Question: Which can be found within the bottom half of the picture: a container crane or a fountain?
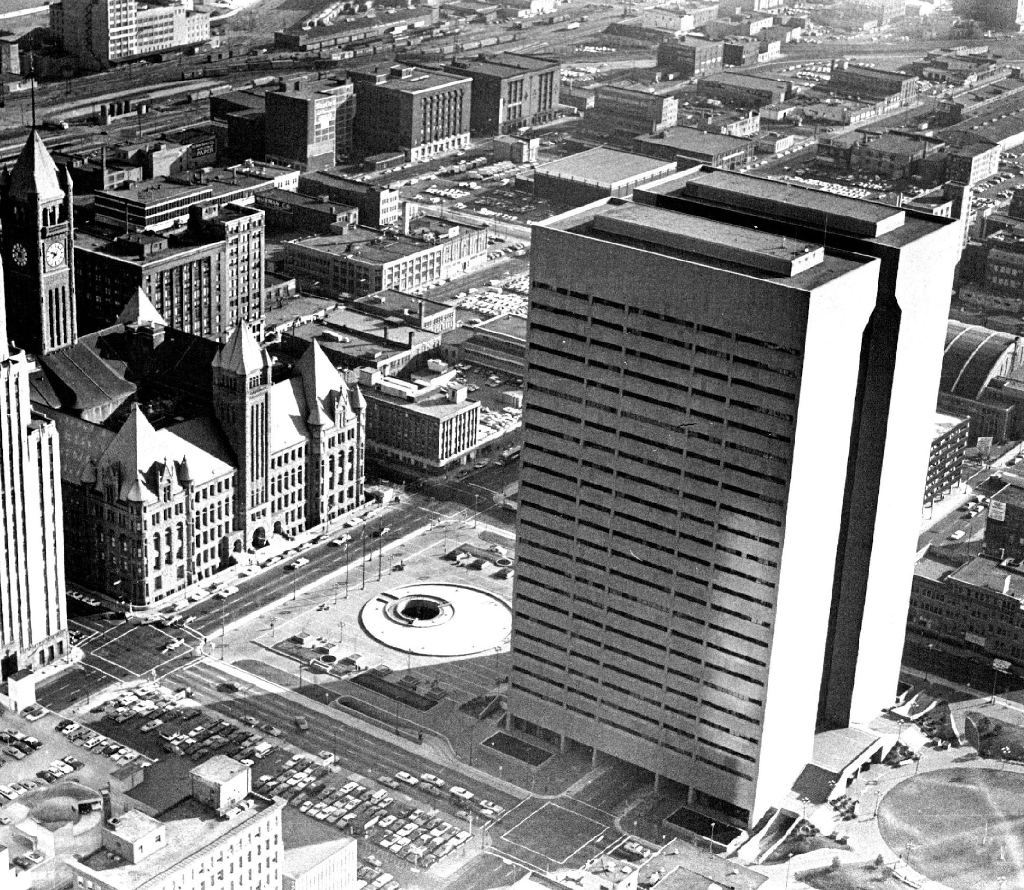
fountain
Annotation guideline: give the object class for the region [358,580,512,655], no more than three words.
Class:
fountain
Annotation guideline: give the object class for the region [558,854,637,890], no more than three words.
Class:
building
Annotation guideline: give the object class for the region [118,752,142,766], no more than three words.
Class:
car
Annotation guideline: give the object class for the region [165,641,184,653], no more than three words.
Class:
vehicle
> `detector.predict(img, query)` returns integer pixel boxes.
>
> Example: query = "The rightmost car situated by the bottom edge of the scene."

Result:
[622,843,649,858]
